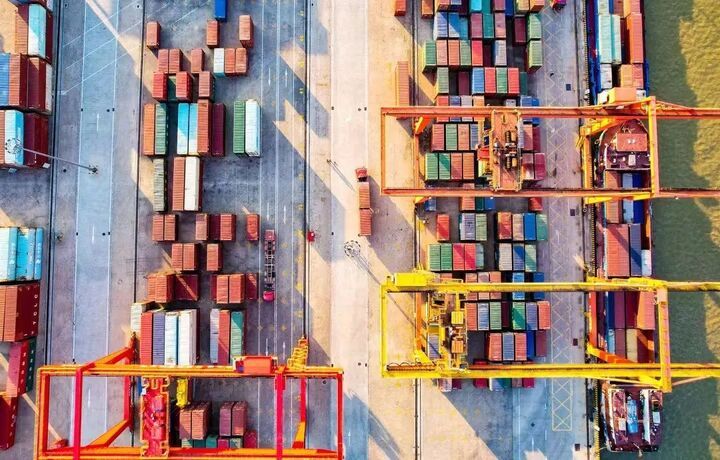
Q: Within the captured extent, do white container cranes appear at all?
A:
No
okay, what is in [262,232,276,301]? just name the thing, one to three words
vehicle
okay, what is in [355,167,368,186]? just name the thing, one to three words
vehicle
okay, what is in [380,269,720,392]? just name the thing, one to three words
container crane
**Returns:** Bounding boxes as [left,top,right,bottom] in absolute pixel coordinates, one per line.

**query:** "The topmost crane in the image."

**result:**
[381,82,720,215]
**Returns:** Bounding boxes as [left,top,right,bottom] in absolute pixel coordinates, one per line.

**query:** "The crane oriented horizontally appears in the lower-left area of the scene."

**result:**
[23,333,343,460]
